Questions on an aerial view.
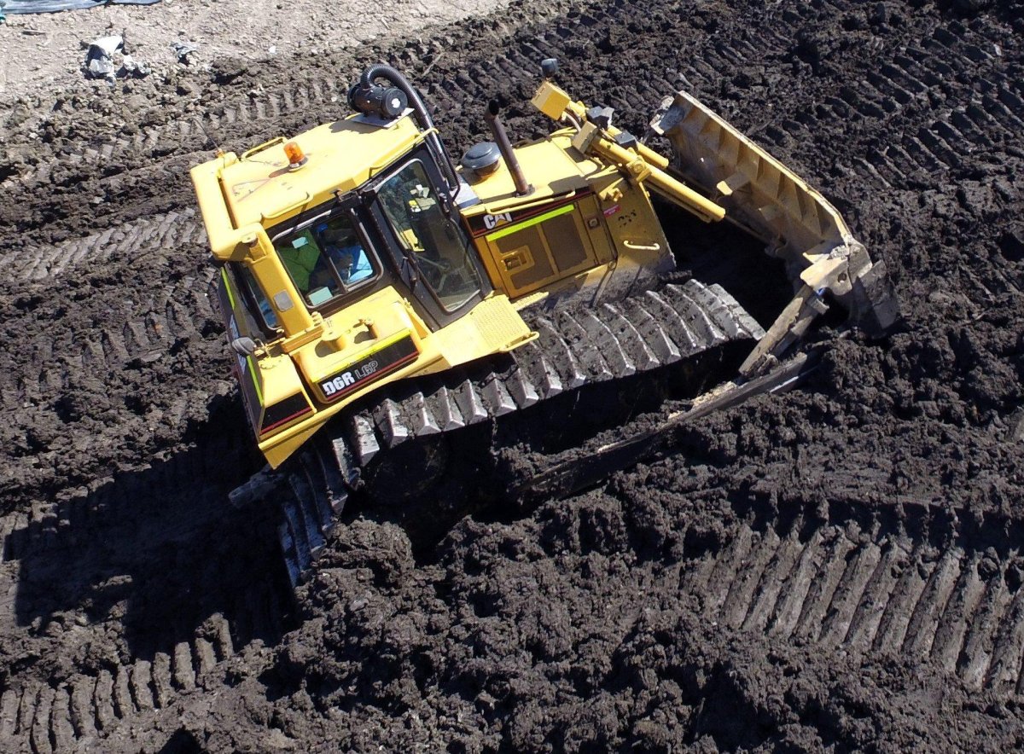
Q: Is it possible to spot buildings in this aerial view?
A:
No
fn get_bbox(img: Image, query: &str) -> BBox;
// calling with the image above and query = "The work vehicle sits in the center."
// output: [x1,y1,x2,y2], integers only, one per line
[162,56,900,597]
